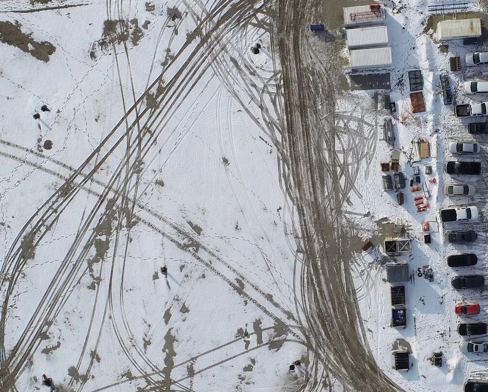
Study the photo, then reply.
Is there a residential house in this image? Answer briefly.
No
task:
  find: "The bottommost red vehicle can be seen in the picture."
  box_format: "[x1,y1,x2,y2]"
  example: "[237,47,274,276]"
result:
[455,301,480,317]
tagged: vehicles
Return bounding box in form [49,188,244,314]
[446,253,477,268]
[463,380,488,392]
[444,160,481,176]
[453,100,488,117]
[439,205,478,222]
[448,229,477,244]
[449,141,480,155]
[455,301,480,317]
[458,340,488,354]
[463,80,488,95]
[443,182,476,198]
[457,322,487,337]
[464,50,488,67]
[467,123,488,133]
[451,274,484,290]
